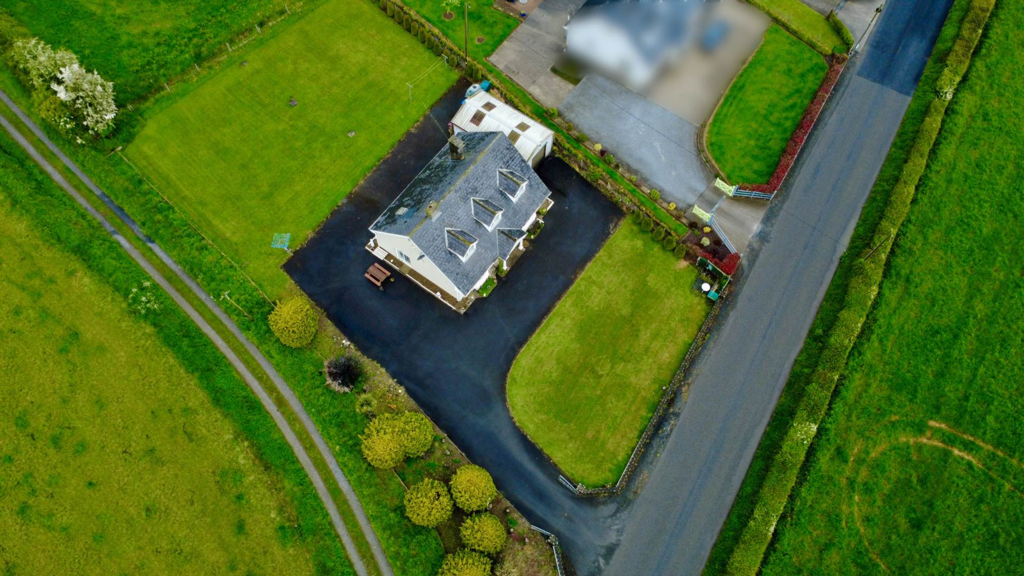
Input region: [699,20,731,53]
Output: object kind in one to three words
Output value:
car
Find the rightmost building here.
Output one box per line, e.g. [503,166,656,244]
[565,0,710,91]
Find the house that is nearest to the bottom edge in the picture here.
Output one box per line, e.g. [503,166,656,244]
[367,131,552,302]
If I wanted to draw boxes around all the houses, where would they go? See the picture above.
[367,131,552,302]
[565,0,710,91]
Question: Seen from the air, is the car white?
No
